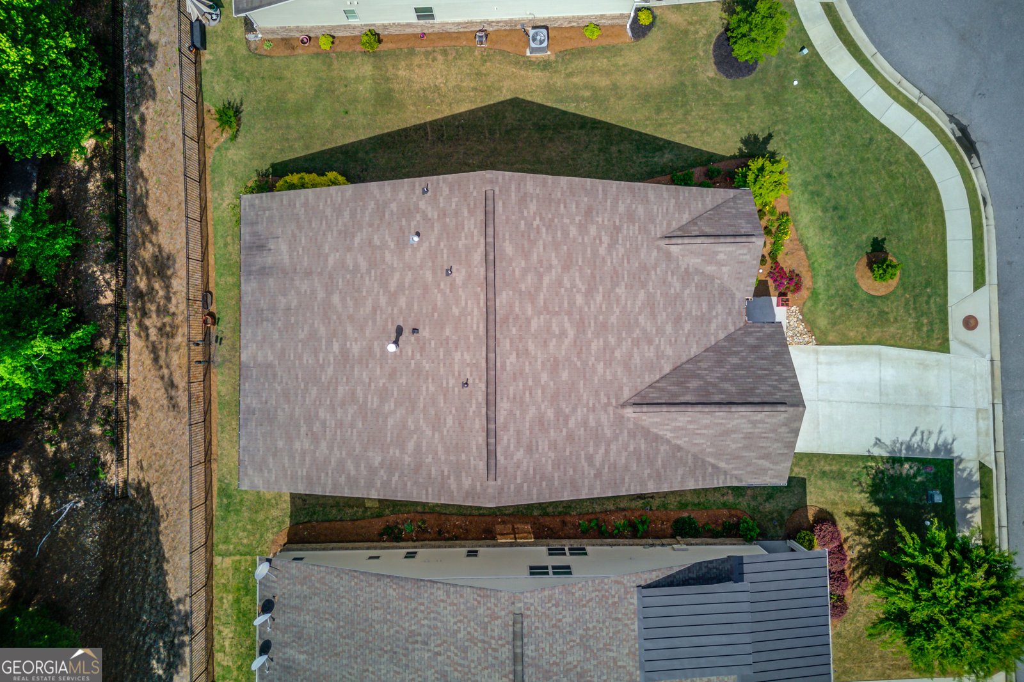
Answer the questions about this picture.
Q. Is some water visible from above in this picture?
No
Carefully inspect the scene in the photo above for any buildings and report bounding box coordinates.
[253,539,831,682]
[238,171,807,511]
[227,0,658,40]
